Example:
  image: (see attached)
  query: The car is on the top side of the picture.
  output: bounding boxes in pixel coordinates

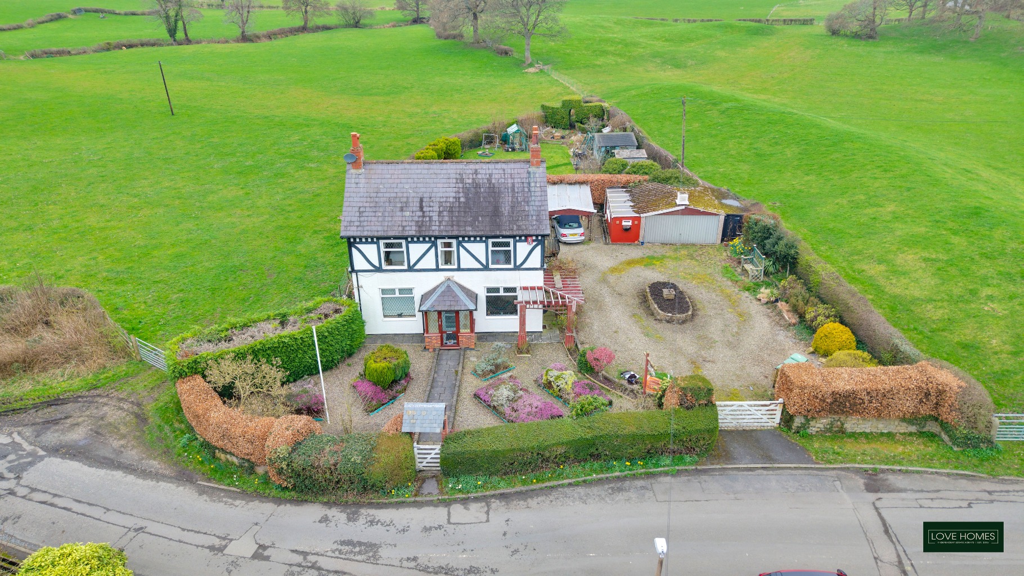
[552,216,587,244]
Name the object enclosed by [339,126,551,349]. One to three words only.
house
